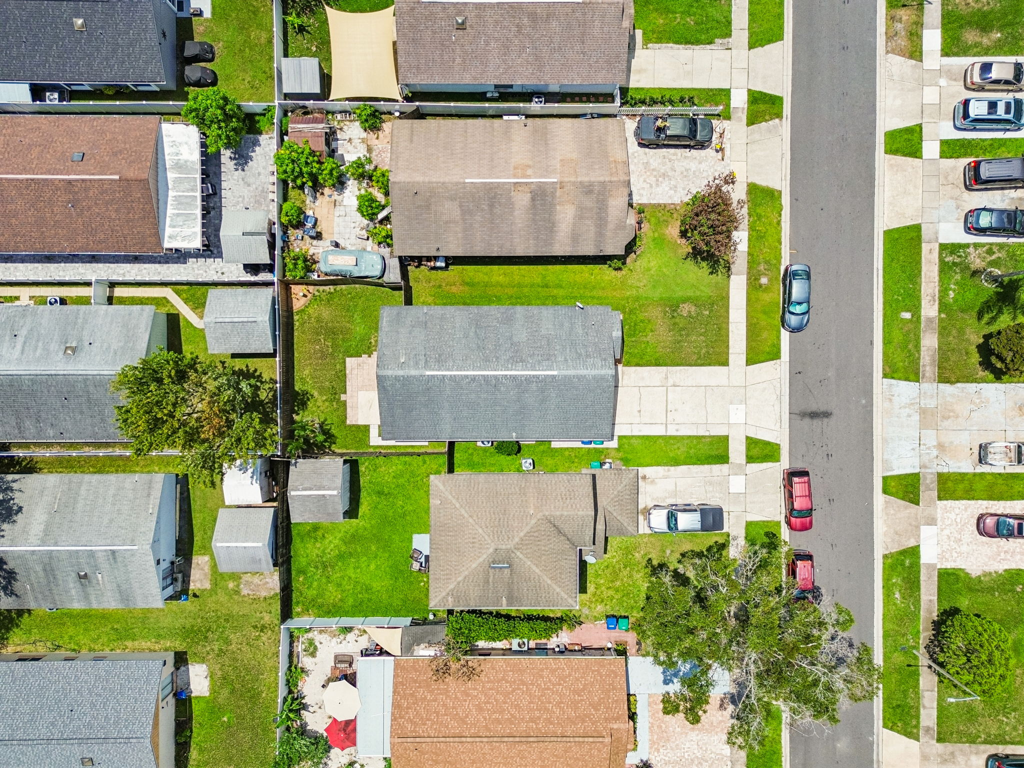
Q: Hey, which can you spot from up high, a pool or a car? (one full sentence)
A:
Looking from above, you can make out a car.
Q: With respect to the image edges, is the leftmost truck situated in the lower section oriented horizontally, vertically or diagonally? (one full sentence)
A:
In this picture, the leftmost truck situated in the lower section is oriented horizontally.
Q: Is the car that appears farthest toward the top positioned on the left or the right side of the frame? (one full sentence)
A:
It is on the right.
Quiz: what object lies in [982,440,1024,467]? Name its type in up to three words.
truck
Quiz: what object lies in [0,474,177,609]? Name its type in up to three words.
house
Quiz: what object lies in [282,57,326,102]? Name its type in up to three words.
shed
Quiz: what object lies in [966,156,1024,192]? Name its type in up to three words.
car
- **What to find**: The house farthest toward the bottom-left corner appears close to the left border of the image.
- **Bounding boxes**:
[0,652,178,768]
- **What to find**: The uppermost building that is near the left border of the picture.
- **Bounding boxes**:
[0,0,178,92]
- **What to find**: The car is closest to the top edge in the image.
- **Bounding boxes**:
[966,58,1024,94]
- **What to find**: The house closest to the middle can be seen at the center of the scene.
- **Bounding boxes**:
[377,306,622,442]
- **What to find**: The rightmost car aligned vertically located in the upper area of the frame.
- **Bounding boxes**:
[779,263,814,334]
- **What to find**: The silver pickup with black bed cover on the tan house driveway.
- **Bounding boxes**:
[645,502,724,536]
